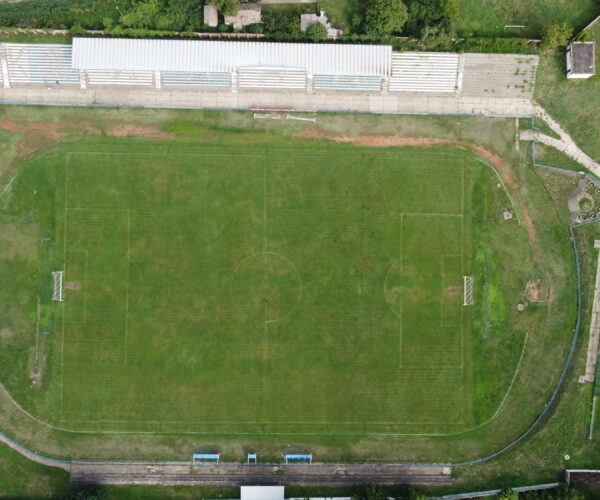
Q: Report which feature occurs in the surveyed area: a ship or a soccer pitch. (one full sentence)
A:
I can see a soccer pitch in this picture.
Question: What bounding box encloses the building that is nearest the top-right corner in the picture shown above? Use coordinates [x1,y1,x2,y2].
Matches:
[567,41,596,78]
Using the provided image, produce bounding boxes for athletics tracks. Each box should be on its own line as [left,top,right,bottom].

[0,117,570,461]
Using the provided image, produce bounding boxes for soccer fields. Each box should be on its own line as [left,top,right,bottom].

[57,148,466,428]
